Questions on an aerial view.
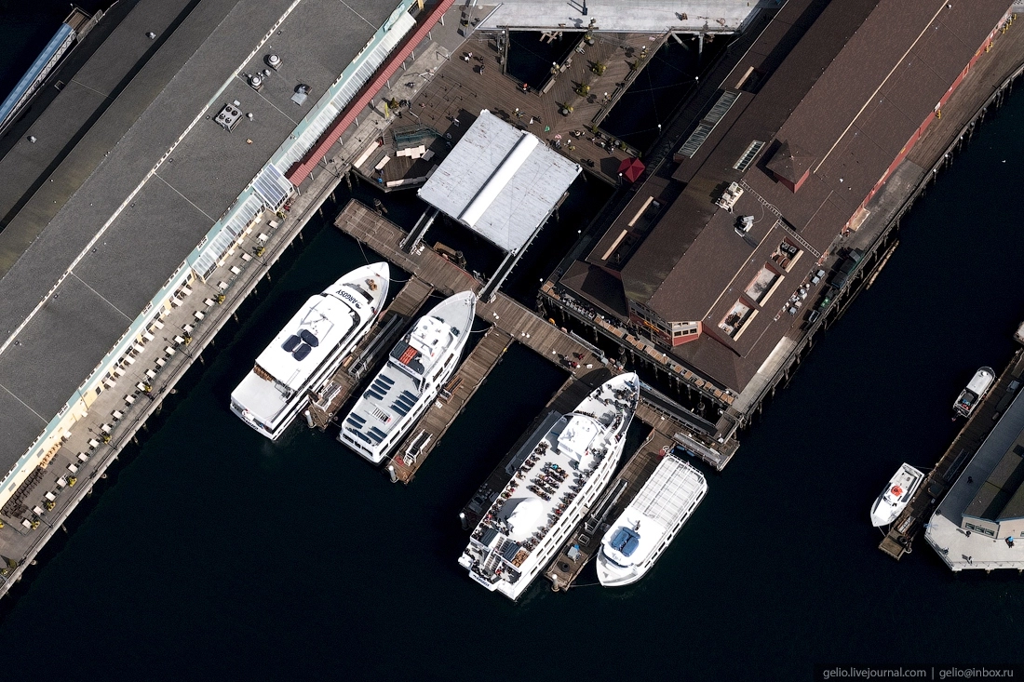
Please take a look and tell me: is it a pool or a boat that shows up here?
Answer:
boat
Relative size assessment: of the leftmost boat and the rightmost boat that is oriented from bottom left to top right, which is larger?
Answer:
the leftmost boat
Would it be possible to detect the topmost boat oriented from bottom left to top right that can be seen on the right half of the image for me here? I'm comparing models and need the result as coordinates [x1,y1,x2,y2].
[953,365,992,419]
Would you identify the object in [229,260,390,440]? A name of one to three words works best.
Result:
boat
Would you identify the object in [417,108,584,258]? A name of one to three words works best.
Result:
shed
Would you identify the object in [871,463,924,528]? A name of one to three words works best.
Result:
boat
